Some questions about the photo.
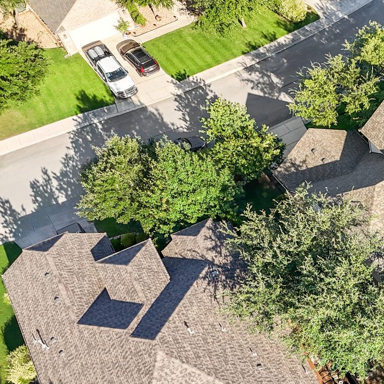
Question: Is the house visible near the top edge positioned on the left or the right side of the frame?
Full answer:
It is on the left.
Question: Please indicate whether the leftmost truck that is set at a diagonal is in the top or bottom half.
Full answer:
Seen from above, the leftmost truck that is set at a diagonal lies in the top half of the view.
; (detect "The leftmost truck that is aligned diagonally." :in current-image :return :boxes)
[83,39,132,91]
